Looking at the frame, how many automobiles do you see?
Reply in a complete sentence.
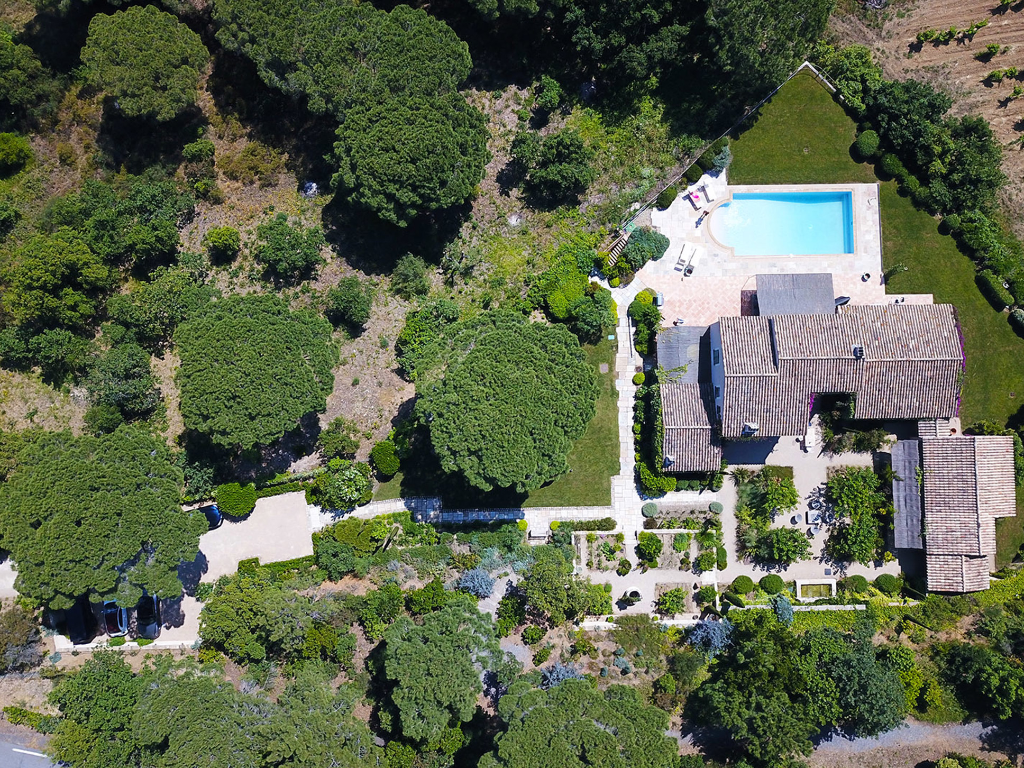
I count 4 automobiles.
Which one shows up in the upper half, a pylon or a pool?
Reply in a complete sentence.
The one visible in the upper half is a pool.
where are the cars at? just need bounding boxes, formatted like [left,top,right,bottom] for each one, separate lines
[178,503,223,533]
[100,601,133,642]
[134,597,164,641]
[62,585,102,644]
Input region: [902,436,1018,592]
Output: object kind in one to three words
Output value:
shed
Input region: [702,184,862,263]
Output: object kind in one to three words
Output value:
swimming pool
